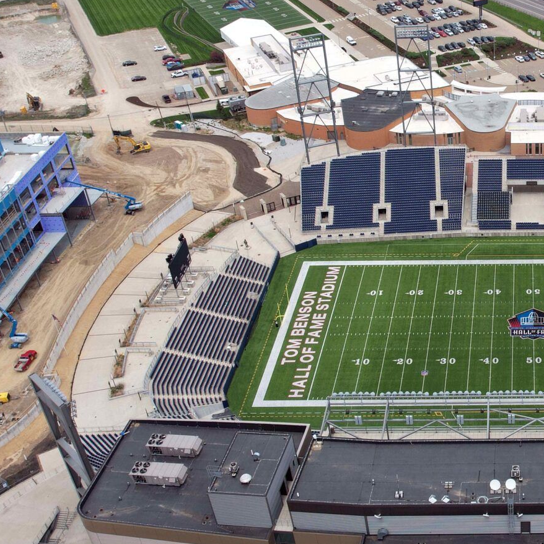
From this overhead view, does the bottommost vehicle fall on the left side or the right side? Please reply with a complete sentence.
The bottommost vehicle sits on the left side.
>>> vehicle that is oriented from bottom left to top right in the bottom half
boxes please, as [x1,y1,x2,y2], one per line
[13,349,35,368]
